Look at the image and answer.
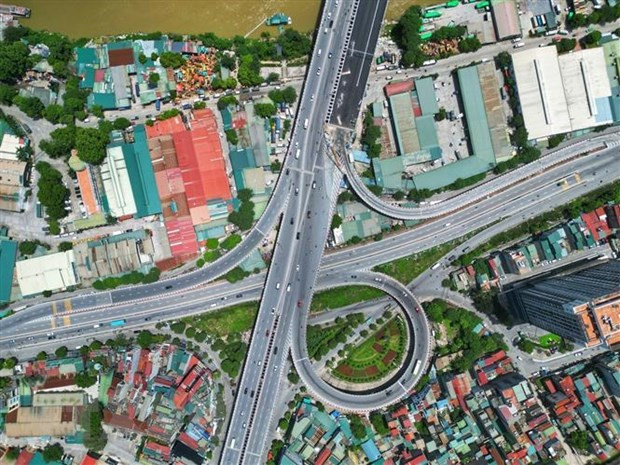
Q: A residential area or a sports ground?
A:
residential area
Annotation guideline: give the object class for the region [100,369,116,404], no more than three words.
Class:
house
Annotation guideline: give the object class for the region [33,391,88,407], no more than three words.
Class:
building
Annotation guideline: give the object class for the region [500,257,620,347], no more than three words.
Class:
building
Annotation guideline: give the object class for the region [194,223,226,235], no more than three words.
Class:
shed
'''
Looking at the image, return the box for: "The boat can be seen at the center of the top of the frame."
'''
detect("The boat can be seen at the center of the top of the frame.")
[265,11,292,24]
